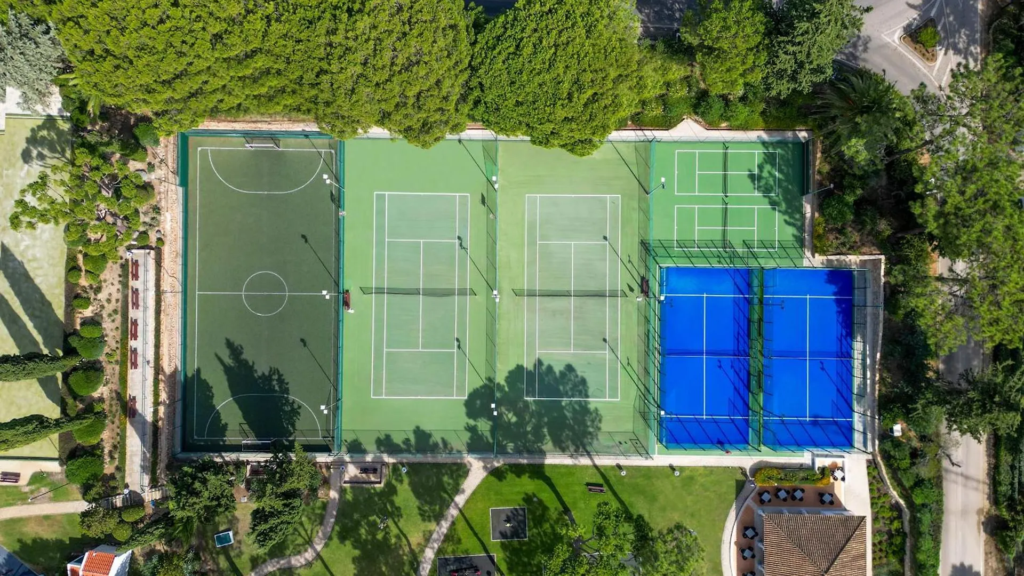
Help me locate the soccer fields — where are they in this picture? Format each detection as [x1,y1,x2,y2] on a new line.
[183,137,339,453]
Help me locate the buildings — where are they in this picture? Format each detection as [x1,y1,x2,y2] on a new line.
[70,543,129,576]
[751,504,867,576]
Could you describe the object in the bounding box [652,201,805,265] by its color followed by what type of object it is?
green tennis court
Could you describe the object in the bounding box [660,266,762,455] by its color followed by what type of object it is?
blue sports court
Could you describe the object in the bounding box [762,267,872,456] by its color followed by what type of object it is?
blue sports court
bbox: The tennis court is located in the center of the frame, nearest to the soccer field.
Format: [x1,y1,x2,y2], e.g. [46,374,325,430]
[340,140,497,455]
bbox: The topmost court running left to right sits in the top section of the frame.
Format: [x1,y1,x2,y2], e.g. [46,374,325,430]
[652,142,805,201]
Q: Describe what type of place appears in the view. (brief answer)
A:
sports ground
